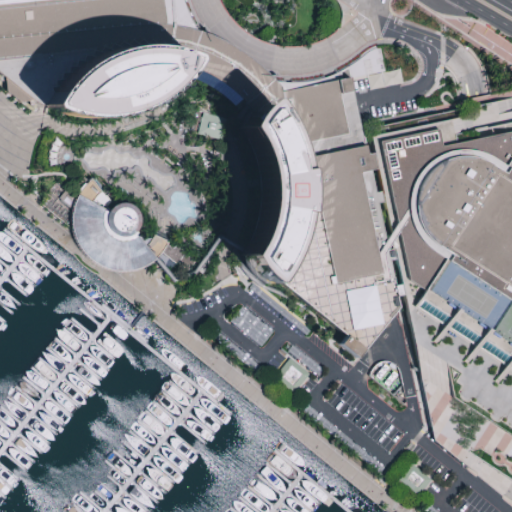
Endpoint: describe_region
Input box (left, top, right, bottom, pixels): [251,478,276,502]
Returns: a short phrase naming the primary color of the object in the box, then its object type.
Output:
white boat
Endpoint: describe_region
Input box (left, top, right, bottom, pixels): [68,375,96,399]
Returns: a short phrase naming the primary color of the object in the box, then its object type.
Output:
white boat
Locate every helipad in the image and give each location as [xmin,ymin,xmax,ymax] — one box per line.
[290,168,324,211]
